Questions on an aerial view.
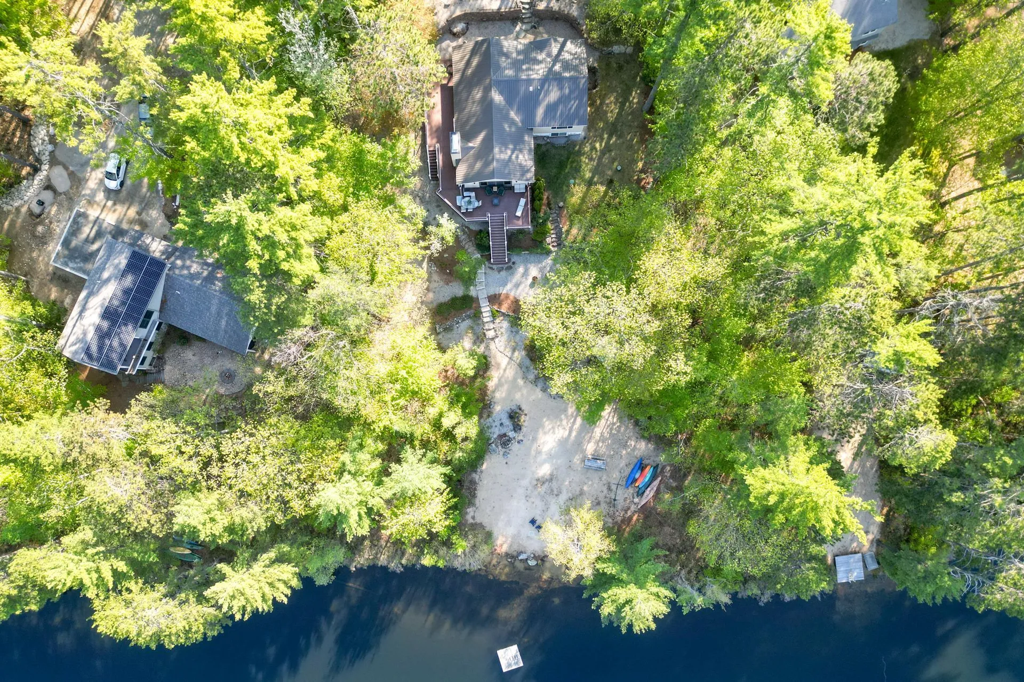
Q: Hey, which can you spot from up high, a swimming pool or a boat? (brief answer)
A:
boat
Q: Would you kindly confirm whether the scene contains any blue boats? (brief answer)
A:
Yes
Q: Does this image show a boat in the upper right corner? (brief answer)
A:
No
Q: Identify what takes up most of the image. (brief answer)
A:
trees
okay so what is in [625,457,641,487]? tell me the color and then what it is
blue boat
